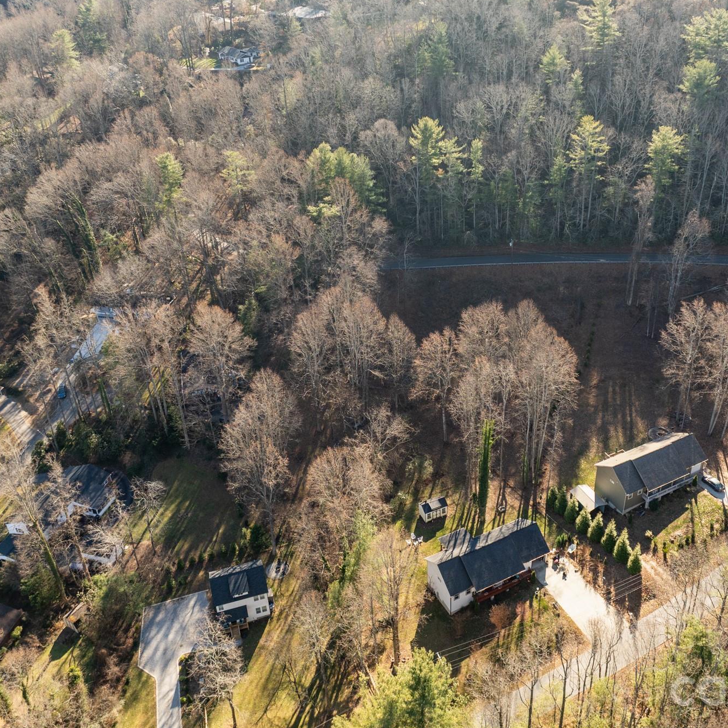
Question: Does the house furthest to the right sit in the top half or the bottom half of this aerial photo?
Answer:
bottom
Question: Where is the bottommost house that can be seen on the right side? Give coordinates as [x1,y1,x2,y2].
[425,517,555,616]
